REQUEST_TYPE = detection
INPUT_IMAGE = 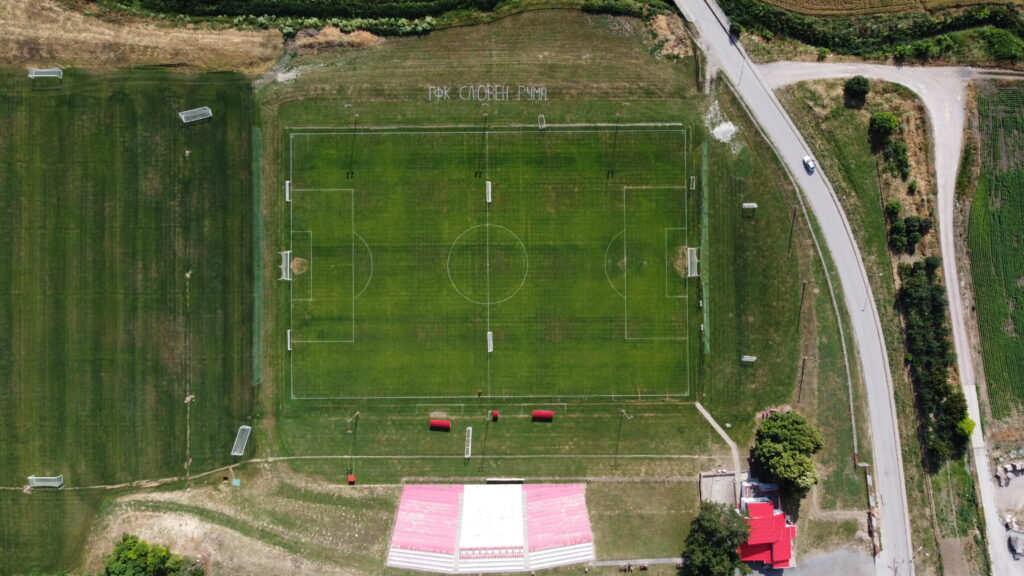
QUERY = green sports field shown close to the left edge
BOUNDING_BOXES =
[0,76,252,470]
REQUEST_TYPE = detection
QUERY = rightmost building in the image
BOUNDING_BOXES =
[735,478,796,567]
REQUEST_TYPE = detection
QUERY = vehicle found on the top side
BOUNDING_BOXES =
[803,156,816,171]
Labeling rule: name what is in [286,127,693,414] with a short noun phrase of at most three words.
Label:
soccer field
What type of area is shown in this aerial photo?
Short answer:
sports ground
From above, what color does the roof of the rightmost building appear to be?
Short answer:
red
